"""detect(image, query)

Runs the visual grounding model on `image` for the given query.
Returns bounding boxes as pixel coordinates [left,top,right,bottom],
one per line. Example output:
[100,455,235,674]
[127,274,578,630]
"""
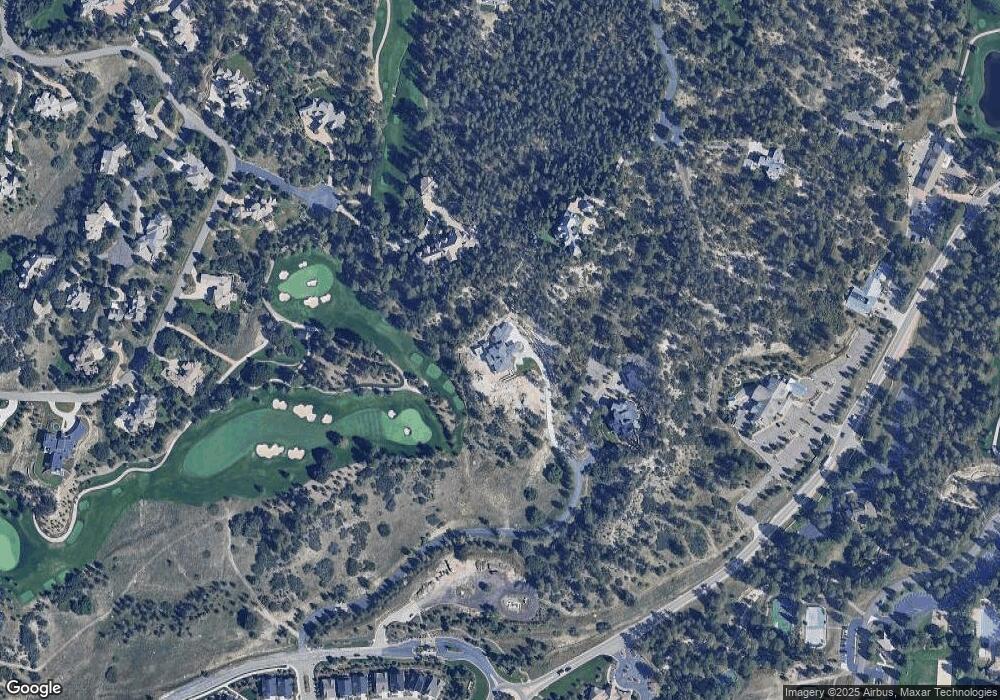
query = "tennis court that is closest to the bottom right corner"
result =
[805,606,826,645]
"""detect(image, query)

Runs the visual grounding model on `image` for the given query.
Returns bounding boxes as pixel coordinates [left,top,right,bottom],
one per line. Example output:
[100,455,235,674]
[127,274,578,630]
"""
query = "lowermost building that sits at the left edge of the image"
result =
[41,420,91,470]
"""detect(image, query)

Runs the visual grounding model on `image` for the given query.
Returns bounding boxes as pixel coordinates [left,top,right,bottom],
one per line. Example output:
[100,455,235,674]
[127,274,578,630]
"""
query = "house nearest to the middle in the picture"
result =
[484,319,521,376]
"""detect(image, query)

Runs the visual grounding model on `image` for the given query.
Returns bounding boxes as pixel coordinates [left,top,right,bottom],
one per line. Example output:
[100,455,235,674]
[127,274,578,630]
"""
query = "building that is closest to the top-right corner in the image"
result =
[913,142,955,191]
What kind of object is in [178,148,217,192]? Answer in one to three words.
house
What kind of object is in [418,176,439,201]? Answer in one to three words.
house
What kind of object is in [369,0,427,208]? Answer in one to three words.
golf course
